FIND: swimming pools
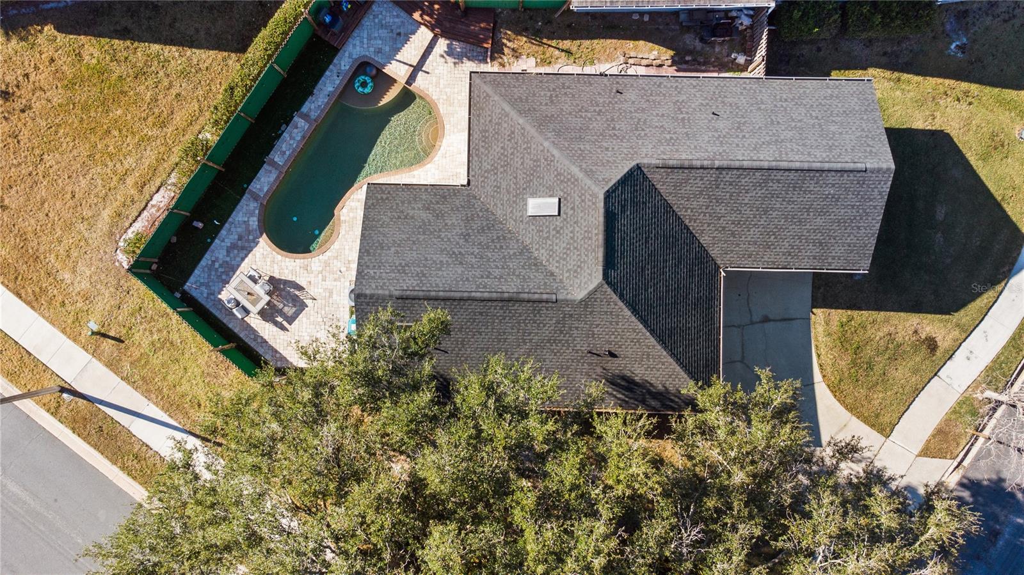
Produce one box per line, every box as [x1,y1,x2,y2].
[258,55,445,259]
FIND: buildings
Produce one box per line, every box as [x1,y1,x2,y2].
[354,71,896,411]
[571,0,790,19]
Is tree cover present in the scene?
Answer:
Yes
